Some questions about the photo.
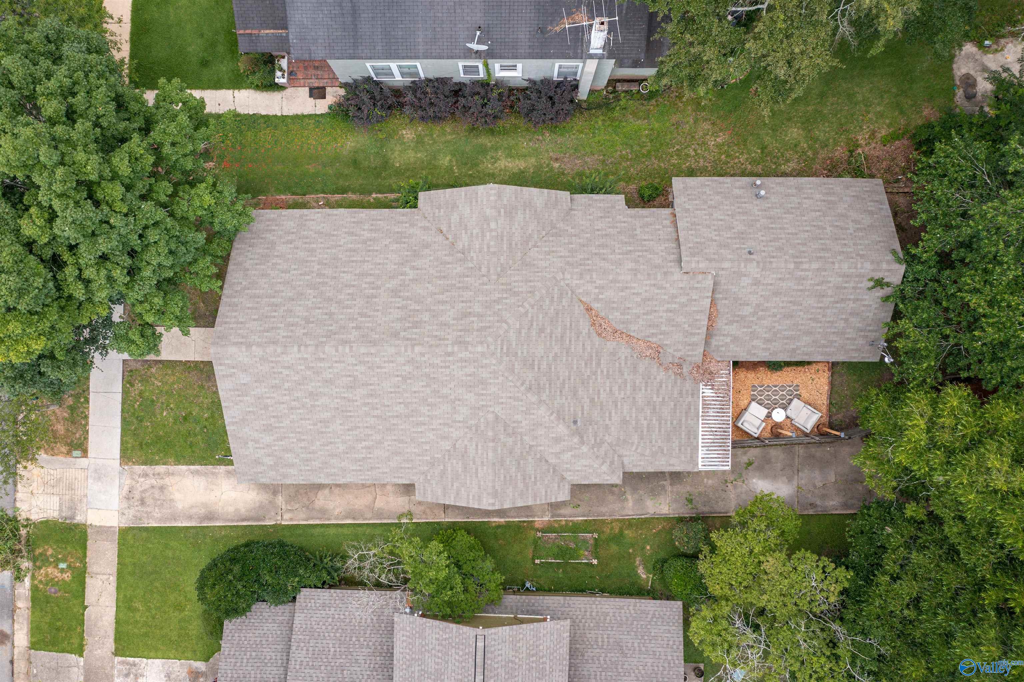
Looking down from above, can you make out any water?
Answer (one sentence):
No, water can't be seen anywhere here.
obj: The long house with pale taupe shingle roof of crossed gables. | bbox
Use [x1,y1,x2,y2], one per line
[211,176,905,510]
